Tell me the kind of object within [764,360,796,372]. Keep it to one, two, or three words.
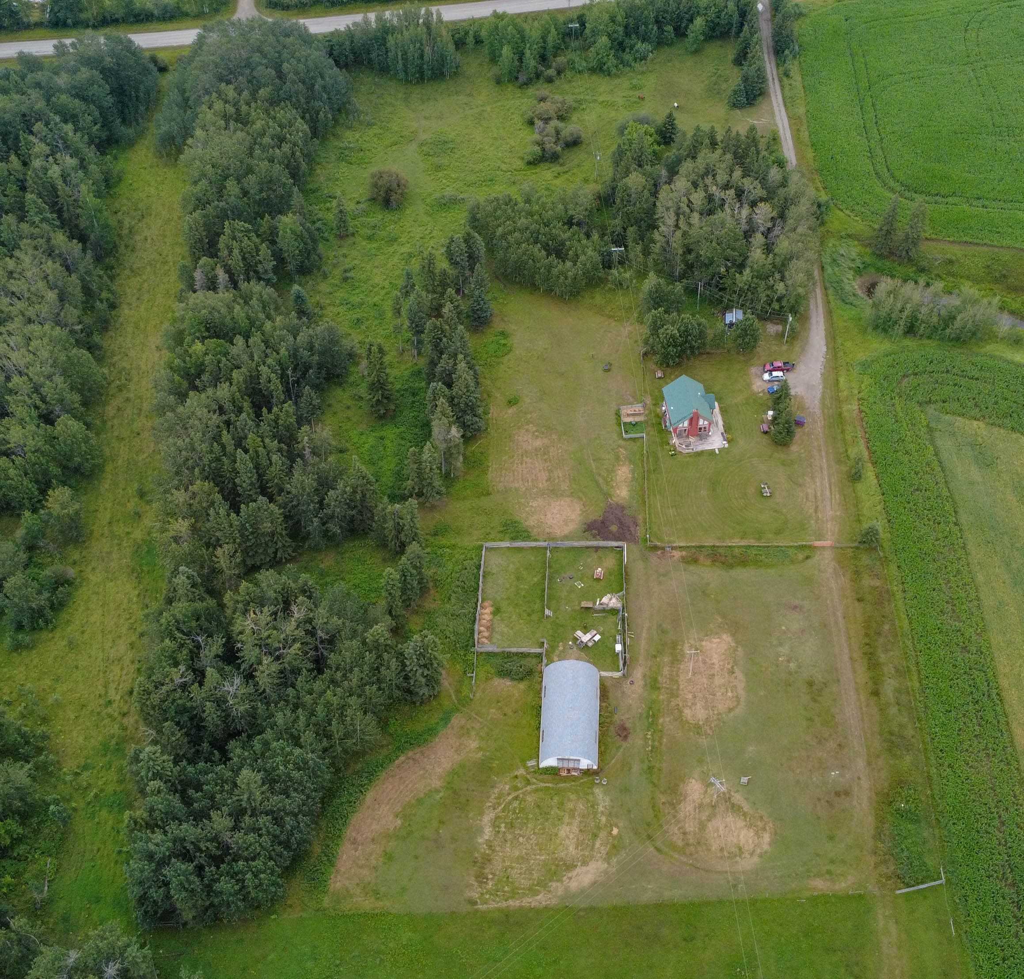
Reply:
vehicle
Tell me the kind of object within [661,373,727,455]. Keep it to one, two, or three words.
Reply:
house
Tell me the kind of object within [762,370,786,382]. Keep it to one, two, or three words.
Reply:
vehicle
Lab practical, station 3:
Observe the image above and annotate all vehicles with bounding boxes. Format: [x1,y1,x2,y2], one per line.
[764,360,796,372]
[765,381,788,394]
[762,370,786,382]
